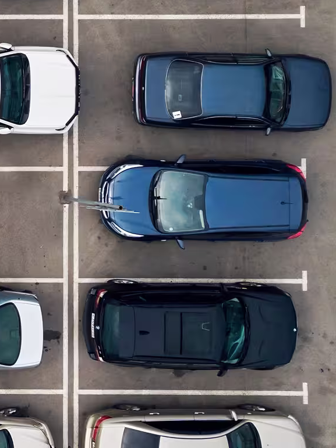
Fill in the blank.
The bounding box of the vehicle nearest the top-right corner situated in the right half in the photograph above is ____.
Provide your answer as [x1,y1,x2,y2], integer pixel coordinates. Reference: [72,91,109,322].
[131,43,332,138]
